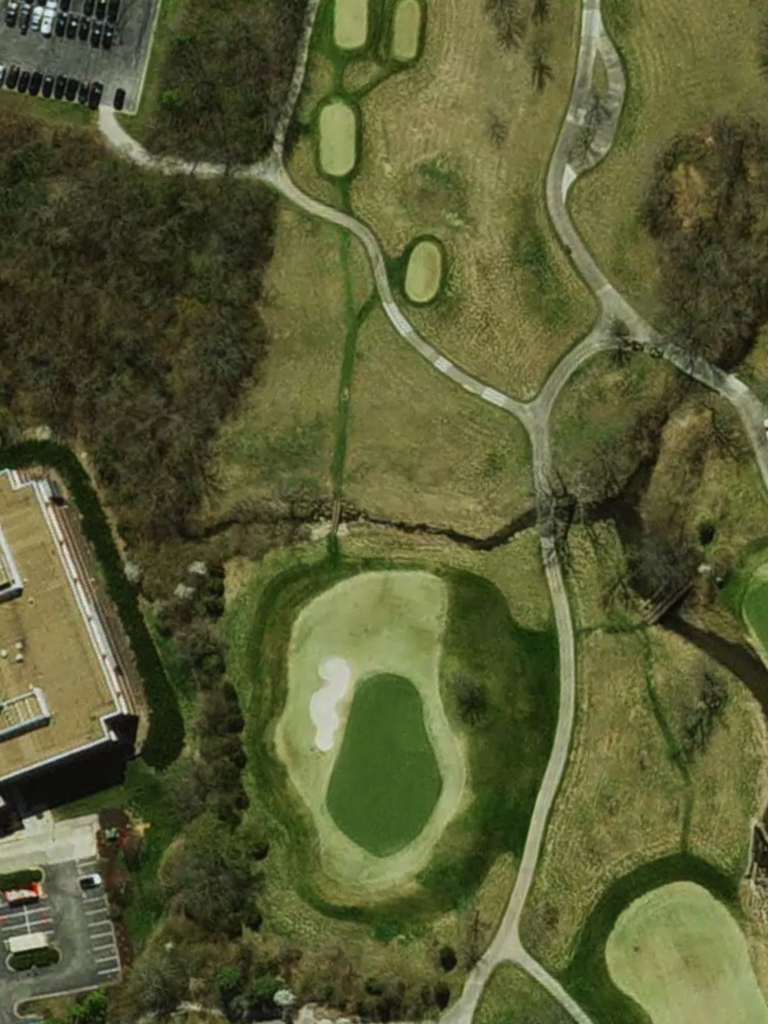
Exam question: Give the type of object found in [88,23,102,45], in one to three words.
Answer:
car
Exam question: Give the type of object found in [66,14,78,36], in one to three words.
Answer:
vehicle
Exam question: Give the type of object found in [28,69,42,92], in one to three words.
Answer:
car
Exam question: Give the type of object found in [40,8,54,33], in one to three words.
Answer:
vehicle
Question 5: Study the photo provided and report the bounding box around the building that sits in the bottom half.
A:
[0,468,140,783]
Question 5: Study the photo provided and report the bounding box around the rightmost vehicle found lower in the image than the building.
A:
[78,874,100,886]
